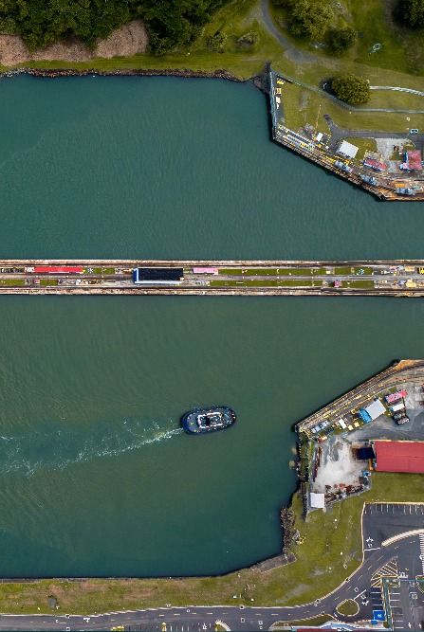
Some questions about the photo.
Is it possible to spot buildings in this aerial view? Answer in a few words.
Yes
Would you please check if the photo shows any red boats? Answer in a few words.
No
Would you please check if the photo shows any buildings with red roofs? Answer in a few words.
Yes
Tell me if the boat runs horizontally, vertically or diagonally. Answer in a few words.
horizontally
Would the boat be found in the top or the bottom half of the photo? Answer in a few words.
bottom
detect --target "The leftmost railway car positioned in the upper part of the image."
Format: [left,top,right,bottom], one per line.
[332,161,352,174]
